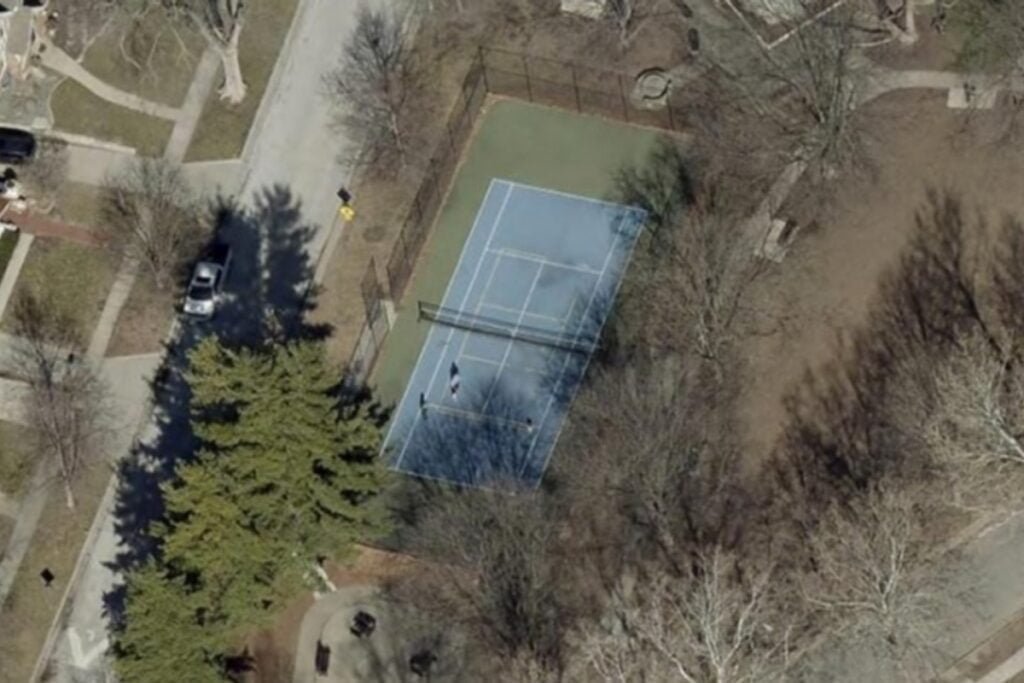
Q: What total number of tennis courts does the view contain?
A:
1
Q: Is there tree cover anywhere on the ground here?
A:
Yes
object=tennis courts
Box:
[328,102,709,570]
